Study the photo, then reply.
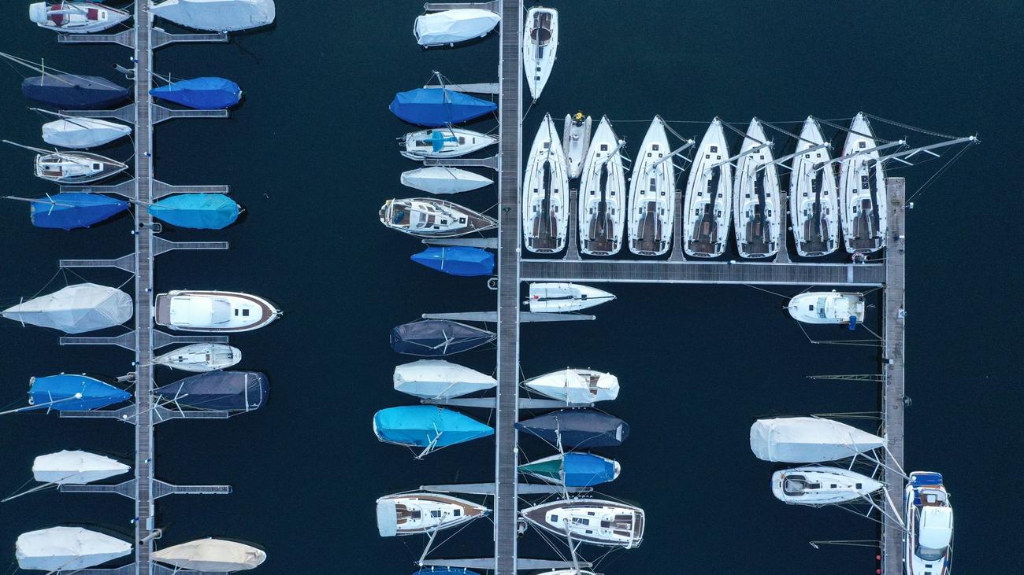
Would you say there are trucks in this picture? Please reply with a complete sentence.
No, the frame has no truck in it.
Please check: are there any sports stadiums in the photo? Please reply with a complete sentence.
No, there is no sports stadium in the image.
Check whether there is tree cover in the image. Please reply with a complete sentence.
No, tree cover can't be seen anywhere here.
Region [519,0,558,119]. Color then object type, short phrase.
white boat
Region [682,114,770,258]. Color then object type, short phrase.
white boat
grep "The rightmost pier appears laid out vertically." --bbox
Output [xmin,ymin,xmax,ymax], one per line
[878,178,906,575]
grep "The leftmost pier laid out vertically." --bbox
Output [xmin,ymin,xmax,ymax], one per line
[122,0,158,575]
